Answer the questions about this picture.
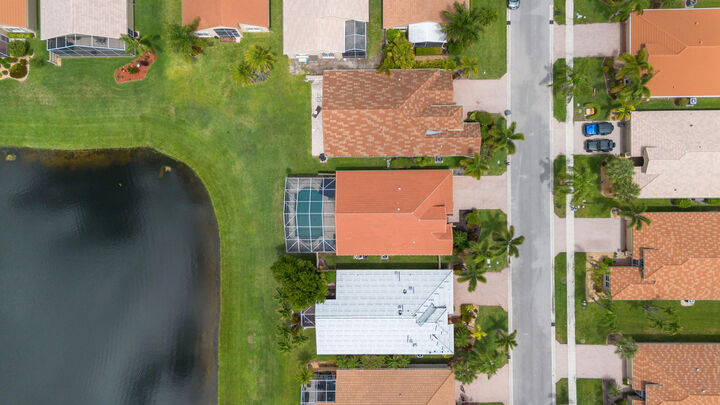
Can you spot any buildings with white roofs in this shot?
Yes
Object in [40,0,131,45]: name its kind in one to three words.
house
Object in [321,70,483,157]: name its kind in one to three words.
house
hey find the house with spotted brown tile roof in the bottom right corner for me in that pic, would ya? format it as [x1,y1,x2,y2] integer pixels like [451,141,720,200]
[628,342,720,405]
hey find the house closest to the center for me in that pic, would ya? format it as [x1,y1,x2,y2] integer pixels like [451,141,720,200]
[335,169,455,256]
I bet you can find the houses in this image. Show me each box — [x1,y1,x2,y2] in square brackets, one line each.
[0,0,36,32]
[321,70,483,157]
[335,169,455,256]
[626,110,720,199]
[283,0,370,60]
[628,342,720,405]
[314,269,454,356]
[626,9,720,98]
[604,212,720,301]
[181,0,270,37]
[40,0,131,45]
[316,367,455,405]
